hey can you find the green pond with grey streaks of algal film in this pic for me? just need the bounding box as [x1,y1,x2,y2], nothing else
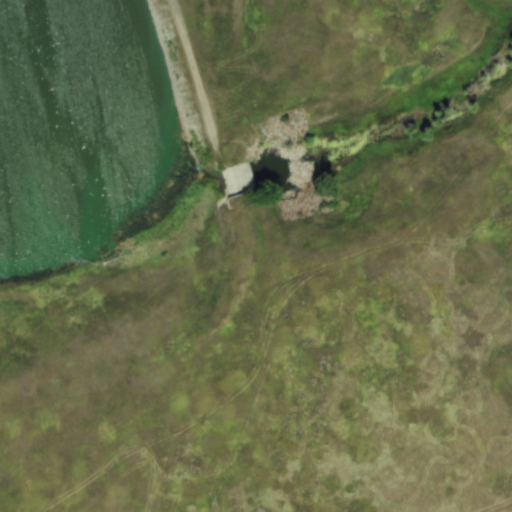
[0,0,222,283]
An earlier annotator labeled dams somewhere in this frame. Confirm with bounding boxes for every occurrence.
[148,0,227,154]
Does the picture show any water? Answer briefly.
Yes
